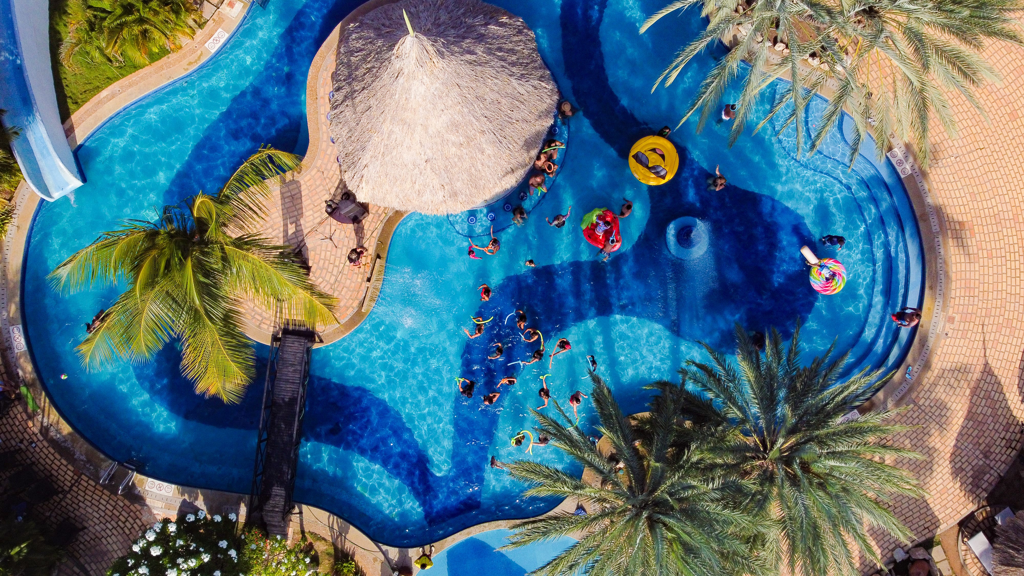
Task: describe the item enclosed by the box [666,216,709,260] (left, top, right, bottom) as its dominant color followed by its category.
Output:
blue fountain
